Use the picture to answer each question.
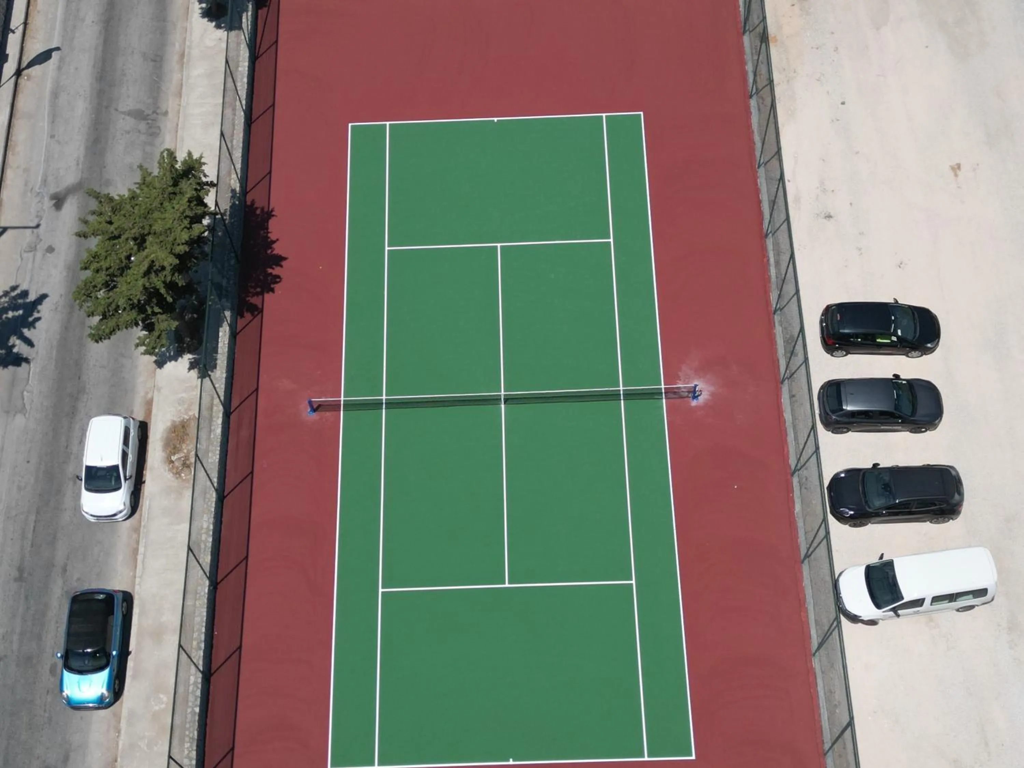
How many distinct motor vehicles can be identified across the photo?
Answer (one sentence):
There are 6 motor vehicles in the image.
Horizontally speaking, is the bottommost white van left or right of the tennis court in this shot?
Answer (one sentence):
From the viewer's perspective, the bottommost white van falls to the right of the tennis court.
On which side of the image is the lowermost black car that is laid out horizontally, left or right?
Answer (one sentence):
The lowermost black car that is laid out horizontally sits on the right side.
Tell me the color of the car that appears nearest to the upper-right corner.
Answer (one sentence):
The car that appears nearest to the upper-right corner looks black in the image.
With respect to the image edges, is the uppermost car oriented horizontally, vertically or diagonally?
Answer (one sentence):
The uppermost car is laid out horizontally.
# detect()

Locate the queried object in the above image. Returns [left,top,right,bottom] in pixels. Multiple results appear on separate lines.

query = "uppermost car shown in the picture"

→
[819,297,940,358]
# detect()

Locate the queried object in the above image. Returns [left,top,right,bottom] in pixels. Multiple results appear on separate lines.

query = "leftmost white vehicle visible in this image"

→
[73,413,141,522]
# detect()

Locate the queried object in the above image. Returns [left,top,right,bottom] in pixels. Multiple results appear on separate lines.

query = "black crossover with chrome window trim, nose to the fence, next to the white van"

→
[826,460,964,527]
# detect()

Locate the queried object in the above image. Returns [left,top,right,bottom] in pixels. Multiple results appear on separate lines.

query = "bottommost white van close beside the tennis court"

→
[836,547,997,625]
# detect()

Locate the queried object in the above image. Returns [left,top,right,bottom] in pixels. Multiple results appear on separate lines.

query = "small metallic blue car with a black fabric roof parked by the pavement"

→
[52,588,125,710]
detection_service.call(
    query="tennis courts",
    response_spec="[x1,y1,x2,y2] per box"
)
[203,0,825,768]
